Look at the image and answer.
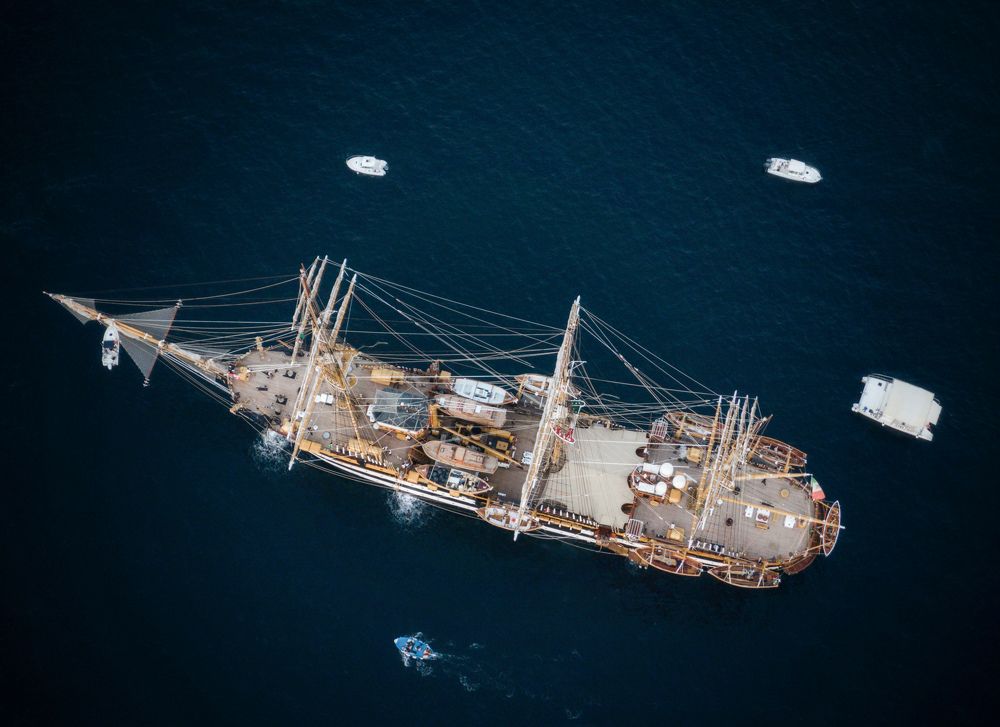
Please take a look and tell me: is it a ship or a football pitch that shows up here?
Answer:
ship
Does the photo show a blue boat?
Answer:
Yes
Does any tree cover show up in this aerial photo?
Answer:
No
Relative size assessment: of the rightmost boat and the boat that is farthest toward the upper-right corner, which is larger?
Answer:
the rightmost boat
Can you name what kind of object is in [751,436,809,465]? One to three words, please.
boat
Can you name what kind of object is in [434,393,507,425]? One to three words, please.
boat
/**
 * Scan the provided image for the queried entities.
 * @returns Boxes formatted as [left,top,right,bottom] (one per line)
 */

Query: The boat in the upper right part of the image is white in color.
[763,157,823,183]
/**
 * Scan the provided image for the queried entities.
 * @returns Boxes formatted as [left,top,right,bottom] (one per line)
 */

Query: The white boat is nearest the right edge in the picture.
[846,374,941,441]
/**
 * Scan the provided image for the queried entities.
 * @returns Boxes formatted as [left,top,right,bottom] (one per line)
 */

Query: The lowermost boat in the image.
[393,636,439,662]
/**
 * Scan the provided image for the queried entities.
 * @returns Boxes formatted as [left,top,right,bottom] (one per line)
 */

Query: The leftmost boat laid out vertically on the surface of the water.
[101,324,121,369]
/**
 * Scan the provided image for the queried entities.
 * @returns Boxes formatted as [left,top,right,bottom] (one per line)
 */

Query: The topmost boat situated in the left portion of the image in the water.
[346,155,391,177]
